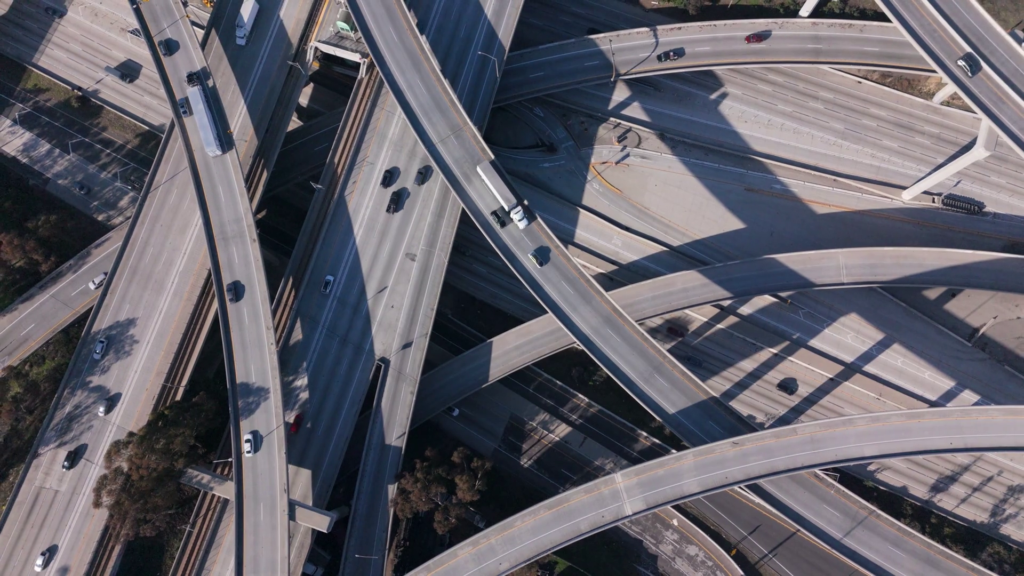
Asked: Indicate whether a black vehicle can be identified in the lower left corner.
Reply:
Yes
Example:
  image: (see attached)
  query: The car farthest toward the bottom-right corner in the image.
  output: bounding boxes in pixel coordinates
[777,379,797,394]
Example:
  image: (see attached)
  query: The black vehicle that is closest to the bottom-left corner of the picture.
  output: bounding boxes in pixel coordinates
[61,449,77,472]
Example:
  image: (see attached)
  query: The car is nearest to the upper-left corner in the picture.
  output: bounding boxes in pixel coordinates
[44,4,62,17]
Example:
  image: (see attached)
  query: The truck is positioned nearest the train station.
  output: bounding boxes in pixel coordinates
[235,0,260,48]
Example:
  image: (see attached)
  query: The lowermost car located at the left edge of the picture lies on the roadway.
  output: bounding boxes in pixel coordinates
[34,549,51,572]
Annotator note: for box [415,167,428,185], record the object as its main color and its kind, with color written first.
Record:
black vehicle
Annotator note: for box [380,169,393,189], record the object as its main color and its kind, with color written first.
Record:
black vehicle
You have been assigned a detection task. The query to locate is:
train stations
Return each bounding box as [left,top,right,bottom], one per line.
[295,0,367,102]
